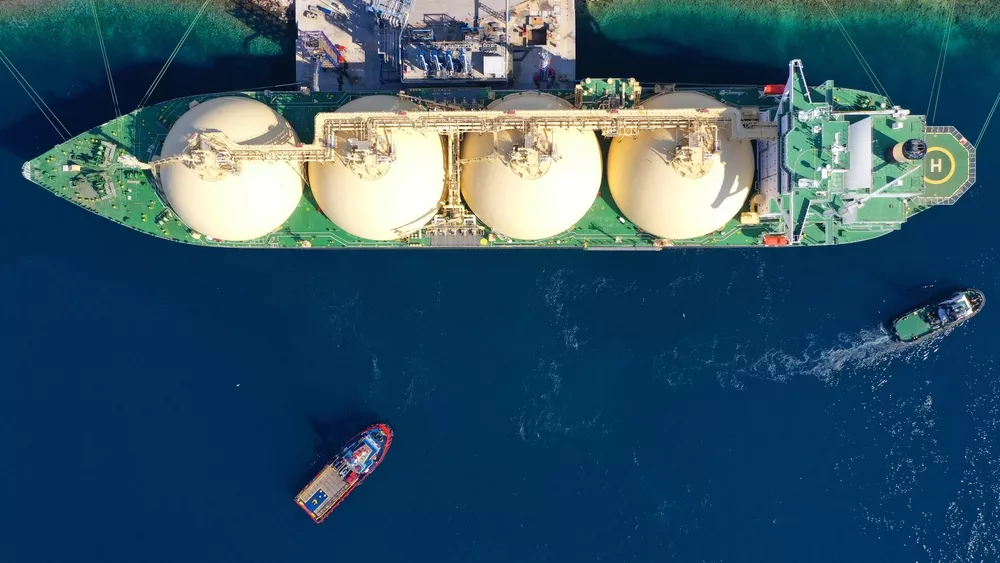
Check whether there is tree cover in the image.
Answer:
No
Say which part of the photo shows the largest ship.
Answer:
top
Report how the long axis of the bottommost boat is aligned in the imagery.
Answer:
on a diagonal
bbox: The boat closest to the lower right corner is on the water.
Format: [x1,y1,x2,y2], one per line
[893,293,989,345]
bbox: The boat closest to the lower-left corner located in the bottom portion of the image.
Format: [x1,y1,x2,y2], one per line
[295,422,394,522]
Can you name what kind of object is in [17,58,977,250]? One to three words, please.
ship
